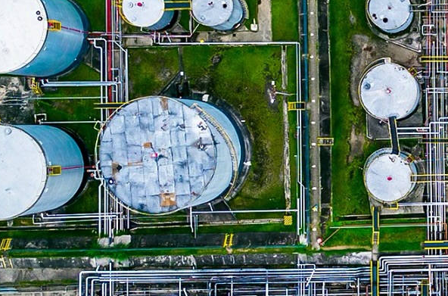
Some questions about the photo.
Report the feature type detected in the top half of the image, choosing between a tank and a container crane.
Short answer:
tank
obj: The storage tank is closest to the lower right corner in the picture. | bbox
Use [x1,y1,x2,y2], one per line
[361,147,416,208]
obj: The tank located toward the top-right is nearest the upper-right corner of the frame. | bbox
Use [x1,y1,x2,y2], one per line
[364,0,417,38]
